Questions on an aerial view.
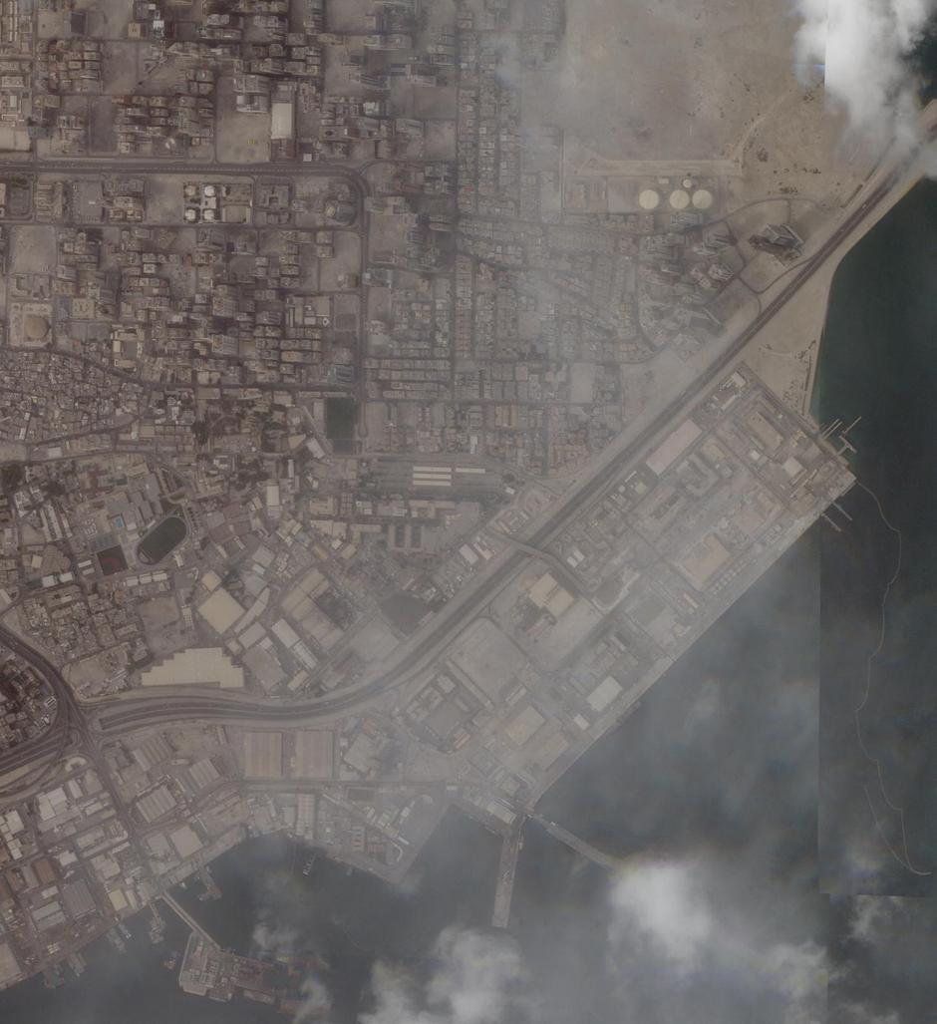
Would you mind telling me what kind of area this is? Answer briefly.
port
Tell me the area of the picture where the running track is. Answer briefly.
left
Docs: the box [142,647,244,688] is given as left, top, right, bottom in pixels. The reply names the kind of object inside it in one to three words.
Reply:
building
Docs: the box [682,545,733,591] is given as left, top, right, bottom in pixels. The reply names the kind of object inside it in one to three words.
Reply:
building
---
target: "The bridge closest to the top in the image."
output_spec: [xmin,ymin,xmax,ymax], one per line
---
[481,523,606,613]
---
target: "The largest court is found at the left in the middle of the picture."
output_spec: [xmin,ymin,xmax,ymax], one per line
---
[96,545,127,575]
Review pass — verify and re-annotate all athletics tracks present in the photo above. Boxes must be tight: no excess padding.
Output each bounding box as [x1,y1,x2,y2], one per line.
[134,515,190,567]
